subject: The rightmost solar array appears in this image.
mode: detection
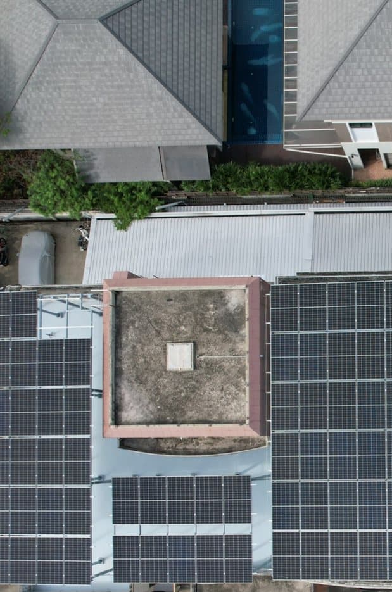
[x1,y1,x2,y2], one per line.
[266,282,392,580]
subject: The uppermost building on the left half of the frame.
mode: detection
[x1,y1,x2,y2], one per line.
[0,0,225,156]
